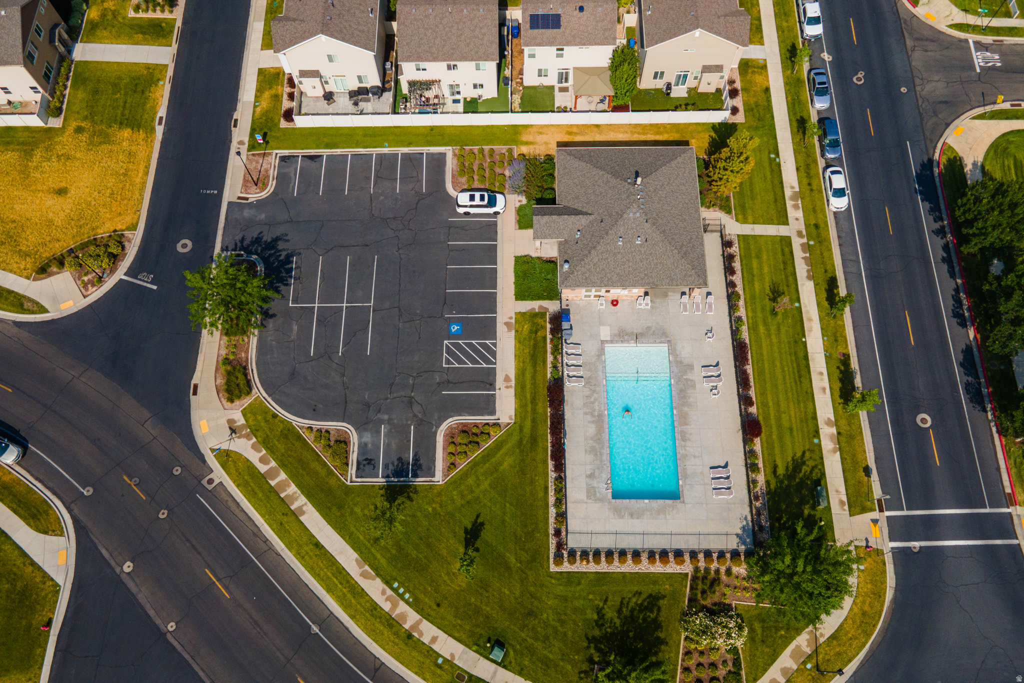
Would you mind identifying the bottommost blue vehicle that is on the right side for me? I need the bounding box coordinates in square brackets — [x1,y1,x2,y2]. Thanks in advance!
[819,121,844,161]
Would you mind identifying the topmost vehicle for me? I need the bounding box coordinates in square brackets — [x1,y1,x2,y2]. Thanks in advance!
[798,0,824,39]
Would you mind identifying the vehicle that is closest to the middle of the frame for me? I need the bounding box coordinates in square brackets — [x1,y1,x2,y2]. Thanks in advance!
[457,191,505,216]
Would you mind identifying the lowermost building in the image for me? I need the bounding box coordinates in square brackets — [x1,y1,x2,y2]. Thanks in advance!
[532,146,709,300]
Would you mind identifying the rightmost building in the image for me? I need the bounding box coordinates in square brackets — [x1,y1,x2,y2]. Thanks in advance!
[635,0,753,92]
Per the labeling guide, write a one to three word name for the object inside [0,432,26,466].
car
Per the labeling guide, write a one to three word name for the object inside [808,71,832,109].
car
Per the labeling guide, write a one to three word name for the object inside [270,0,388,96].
house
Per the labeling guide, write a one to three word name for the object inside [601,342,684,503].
swimming pool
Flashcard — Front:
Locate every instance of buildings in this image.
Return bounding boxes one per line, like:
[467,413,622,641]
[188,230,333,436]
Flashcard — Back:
[0,0,85,97]
[270,0,388,96]
[532,146,709,300]
[520,0,619,85]
[398,0,499,97]
[635,0,753,92]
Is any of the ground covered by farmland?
No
